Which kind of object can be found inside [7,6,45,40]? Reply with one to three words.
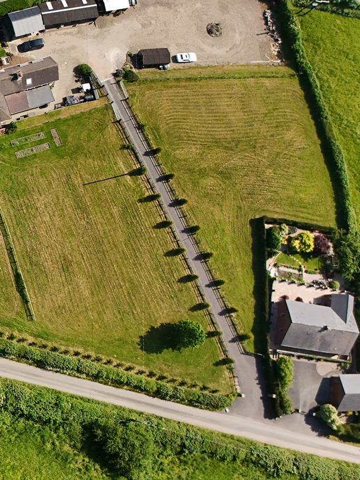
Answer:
shed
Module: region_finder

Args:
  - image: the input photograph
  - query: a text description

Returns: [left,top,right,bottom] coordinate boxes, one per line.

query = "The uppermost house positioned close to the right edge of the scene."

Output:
[278,294,360,356]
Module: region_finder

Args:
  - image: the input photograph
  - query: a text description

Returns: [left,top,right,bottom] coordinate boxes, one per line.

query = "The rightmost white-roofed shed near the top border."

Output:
[101,0,130,16]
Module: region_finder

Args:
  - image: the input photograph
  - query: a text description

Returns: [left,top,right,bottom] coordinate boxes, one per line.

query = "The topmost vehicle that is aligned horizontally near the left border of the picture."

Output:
[18,38,45,54]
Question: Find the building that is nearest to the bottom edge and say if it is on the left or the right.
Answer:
right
